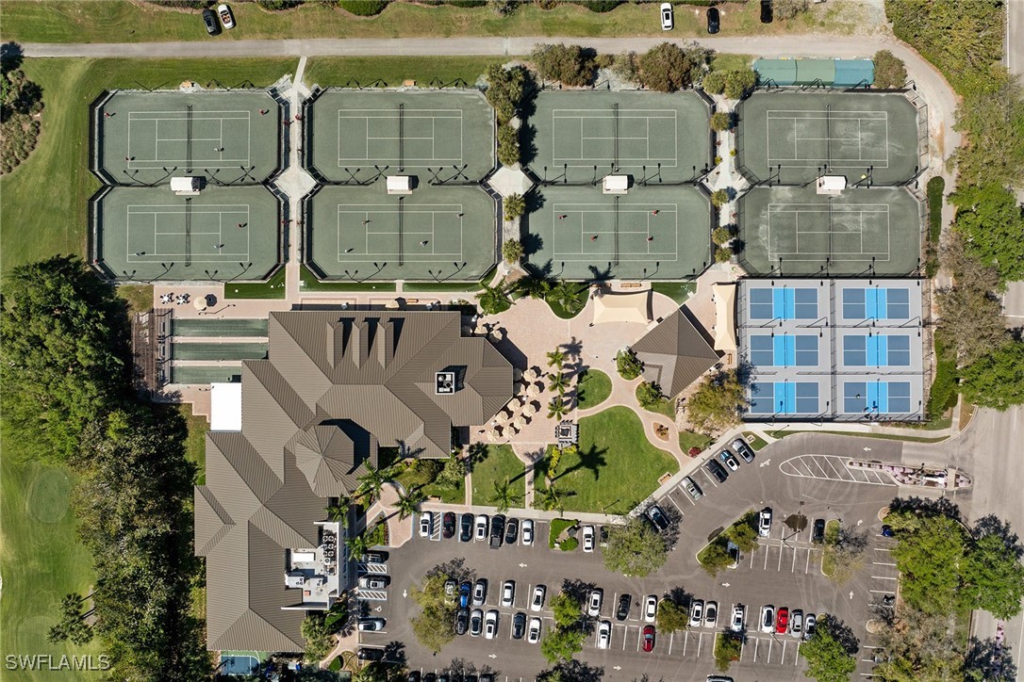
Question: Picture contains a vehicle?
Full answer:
Yes, a vehicle can be made out from above.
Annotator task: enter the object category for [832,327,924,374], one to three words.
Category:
sports court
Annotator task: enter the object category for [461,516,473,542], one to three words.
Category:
vehicle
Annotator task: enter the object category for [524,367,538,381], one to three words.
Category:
umbrella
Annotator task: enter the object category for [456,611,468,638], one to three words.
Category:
vehicle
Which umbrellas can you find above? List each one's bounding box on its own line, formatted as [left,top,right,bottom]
[494,410,509,425]
[489,329,502,342]
[522,403,536,416]
[462,324,474,336]
[193,296,207,310]
[487,429,500,442]
[524,367,538,381]
[474,324,487,336]
[527,384,539,397]
[387,298,400,311]
[513,368,524,382]
[502,424,516,438]
[513,416,527,430]
[507,398,521,412]
[513,382,526,396]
